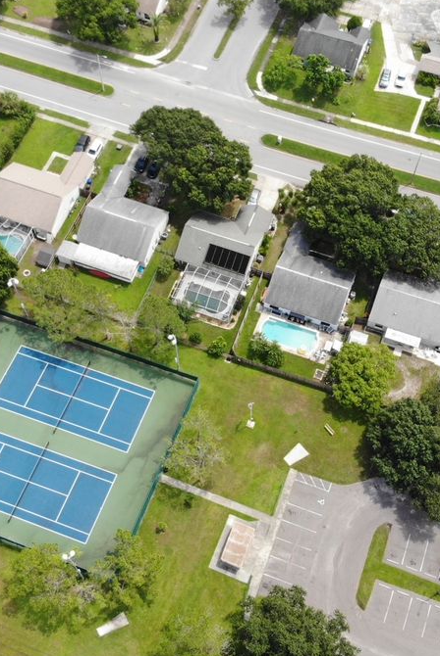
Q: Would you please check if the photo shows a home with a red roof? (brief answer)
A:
No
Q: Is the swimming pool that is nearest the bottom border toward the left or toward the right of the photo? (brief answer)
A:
right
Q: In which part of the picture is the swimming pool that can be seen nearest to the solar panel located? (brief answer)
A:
center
